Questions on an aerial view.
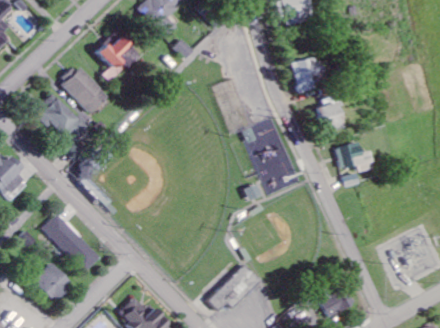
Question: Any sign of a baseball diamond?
Yes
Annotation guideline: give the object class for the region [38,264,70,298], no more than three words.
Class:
house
